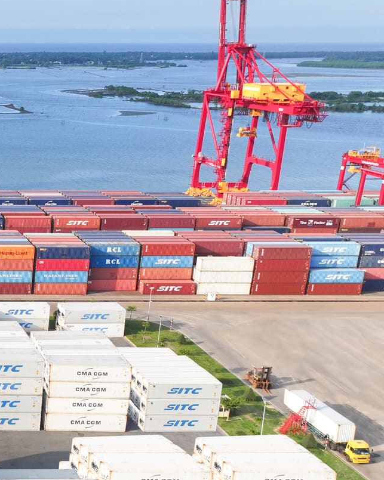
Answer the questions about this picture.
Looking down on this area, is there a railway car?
No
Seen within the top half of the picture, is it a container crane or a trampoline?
container crane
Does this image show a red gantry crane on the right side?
Yes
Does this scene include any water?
Yes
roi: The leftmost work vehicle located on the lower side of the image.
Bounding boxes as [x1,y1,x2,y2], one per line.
[242,364,278,392]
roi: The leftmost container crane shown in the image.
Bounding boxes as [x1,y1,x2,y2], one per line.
[185,0,334,205]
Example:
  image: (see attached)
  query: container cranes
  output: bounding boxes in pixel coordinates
[340,148,384,206]
[185,0,334,205]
